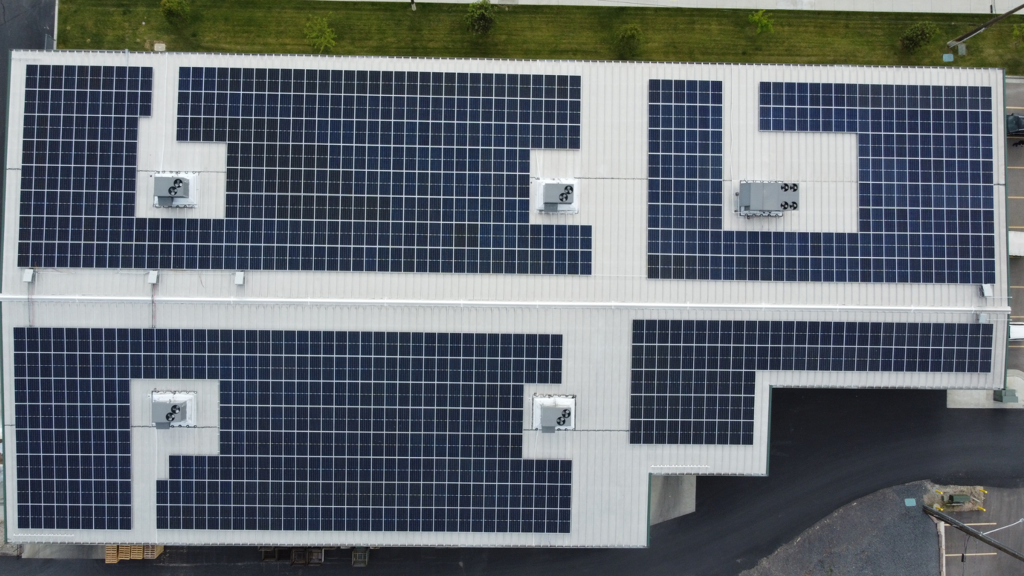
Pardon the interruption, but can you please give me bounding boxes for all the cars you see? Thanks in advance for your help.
[1006,112,1024,138]
[1007,321,1024,341]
